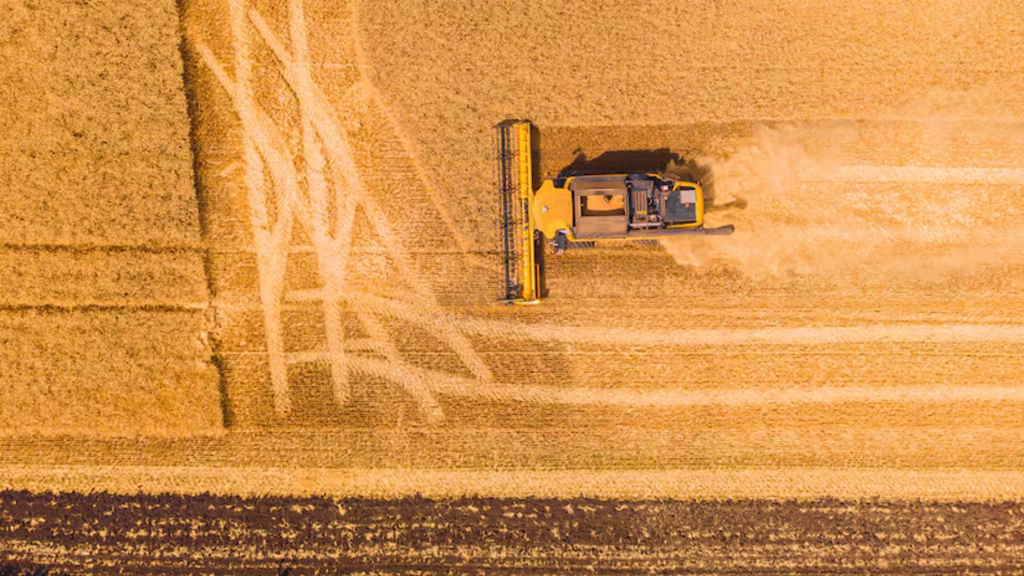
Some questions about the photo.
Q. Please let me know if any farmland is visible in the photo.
Yes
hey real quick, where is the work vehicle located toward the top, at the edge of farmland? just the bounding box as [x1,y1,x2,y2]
[492,119,736,306]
